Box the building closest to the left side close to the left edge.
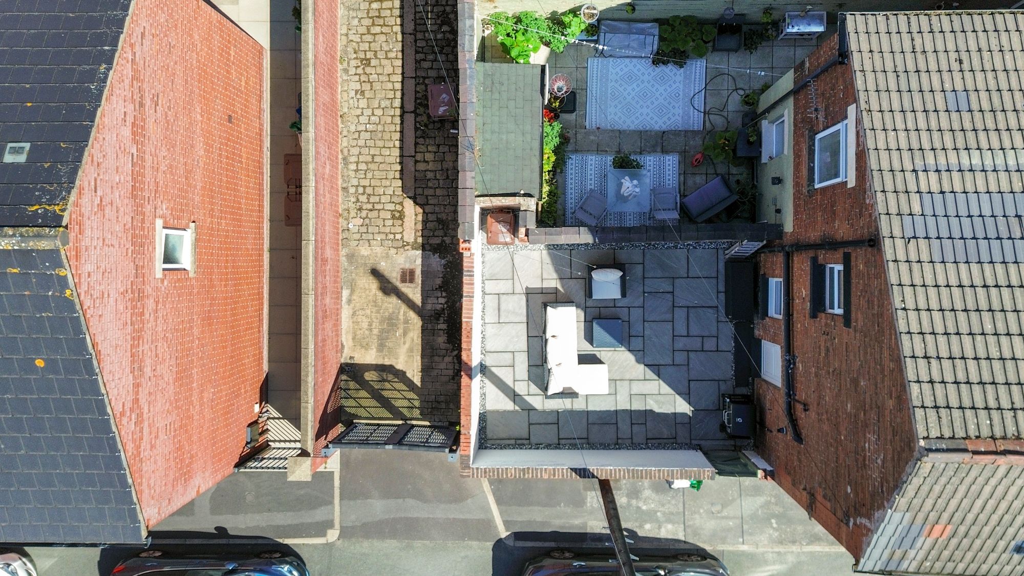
[0,0,269,549]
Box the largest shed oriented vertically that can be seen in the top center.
[477,64,542,200]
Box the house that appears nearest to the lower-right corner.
[737,0,1024,576]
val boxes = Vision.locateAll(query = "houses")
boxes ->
[737,0,1024,576]
[0,0,269,549]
